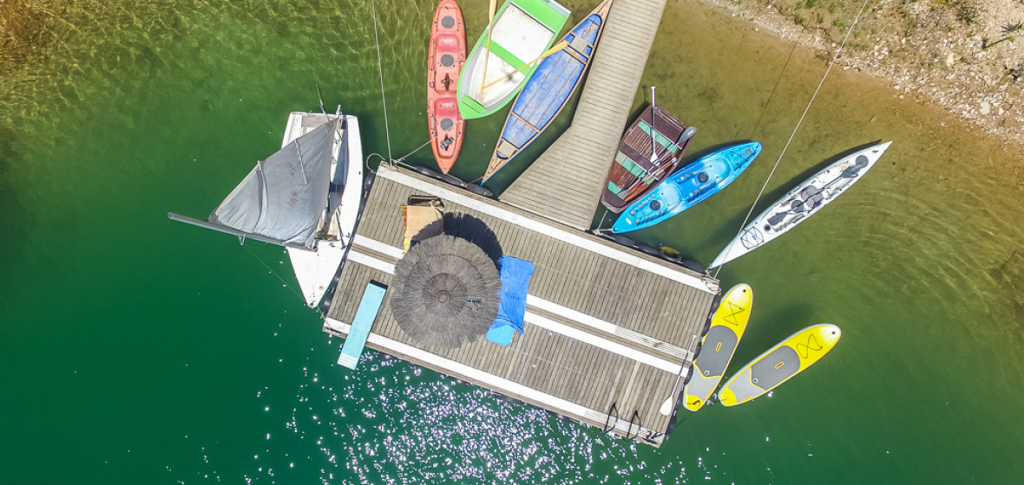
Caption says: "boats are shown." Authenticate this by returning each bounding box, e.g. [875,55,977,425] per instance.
[611,141,763,233]
[708,140,894,267]
[481,0,612,185]
[429,0,466,174]
[603,102,689,213]
[167,84,361,308]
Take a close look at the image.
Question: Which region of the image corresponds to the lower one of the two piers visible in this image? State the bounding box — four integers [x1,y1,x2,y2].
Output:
[323,163,718,450]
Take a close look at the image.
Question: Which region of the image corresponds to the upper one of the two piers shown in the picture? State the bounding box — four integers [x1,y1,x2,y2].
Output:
[500,0,668,228]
